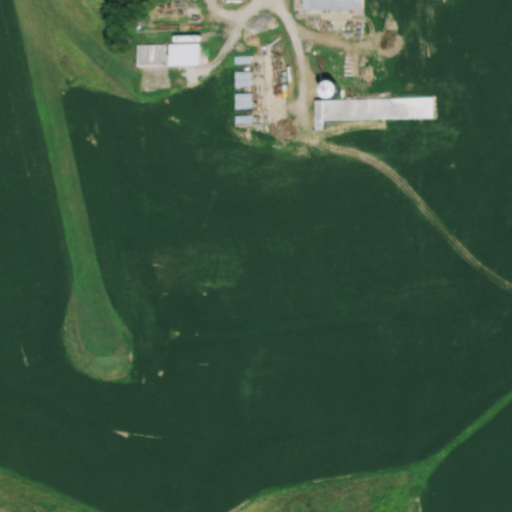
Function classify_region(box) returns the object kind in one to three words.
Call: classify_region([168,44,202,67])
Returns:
shed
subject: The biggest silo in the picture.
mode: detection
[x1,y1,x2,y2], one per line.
[317,80,340,100]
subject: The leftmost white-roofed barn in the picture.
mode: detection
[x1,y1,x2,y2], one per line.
[137,45,168,68]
